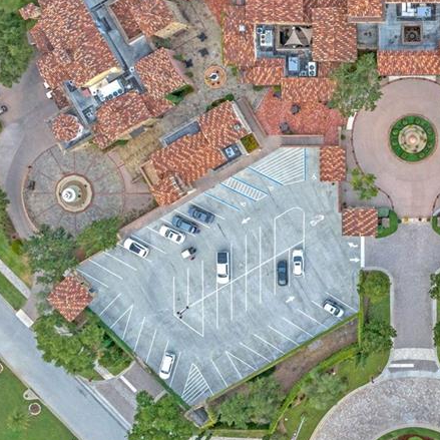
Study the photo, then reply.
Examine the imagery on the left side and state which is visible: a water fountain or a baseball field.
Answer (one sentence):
Looking on the left side, you will find a water fountain.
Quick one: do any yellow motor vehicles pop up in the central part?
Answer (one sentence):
No, the scene shows no yellow motor vehicle in the central part.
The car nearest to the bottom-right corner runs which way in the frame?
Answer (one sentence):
The car nearest to the bottom-right corner is oriented at an angle.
